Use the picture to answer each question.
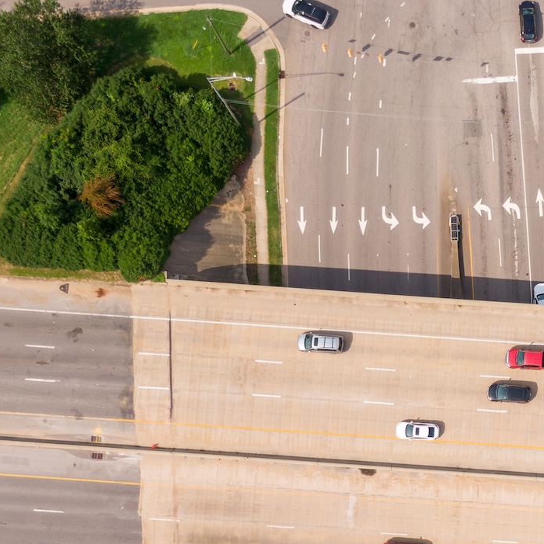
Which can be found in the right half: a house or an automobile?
automobile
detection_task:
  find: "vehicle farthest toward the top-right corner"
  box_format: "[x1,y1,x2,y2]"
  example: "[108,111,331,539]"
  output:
[518,0,537,43]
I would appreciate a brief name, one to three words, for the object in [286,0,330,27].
car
